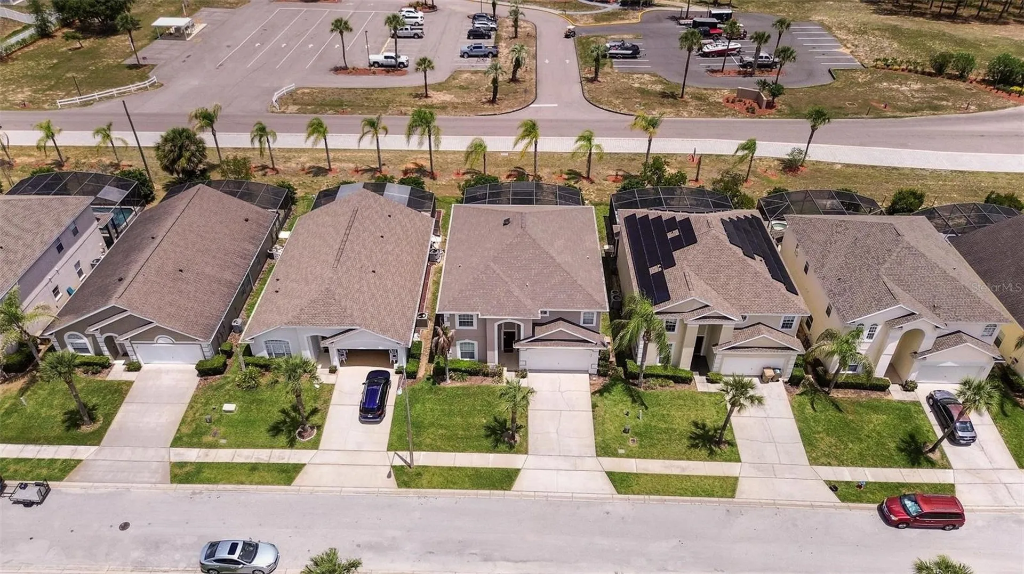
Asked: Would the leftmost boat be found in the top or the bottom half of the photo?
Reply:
top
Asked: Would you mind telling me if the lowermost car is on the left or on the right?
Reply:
left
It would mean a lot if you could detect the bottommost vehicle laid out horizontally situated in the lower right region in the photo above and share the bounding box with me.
[883,491,970,530]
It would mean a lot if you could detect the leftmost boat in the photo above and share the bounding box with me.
[603,37,651,59]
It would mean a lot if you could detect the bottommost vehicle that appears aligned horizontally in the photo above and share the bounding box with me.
[195,538,278,574]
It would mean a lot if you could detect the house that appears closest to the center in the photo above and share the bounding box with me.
[438,204,609,373]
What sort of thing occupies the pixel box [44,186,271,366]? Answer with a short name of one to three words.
house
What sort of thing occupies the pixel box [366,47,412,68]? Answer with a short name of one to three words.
truck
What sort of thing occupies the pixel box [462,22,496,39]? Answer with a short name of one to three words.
car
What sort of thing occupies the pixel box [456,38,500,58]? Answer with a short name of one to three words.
vehicle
